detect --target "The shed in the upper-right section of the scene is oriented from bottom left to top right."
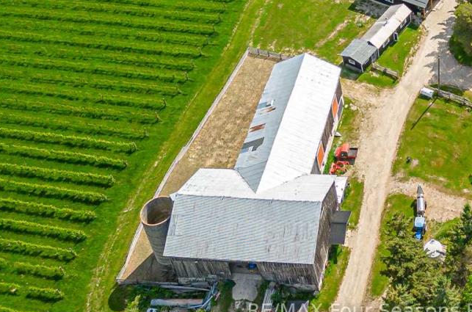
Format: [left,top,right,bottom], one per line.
[340,5,418,80]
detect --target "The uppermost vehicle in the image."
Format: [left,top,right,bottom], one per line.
[331,145,362,163]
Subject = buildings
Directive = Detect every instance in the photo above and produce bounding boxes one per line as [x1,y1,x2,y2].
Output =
[162,47,353,290]
[340,5,418,80]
